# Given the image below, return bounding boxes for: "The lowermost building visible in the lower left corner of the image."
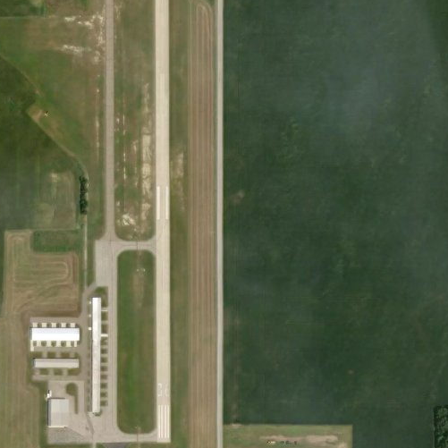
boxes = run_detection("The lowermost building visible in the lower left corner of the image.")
[49,399,69,426]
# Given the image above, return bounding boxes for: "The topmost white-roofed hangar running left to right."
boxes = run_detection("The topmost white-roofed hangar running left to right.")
[31,327,80,342]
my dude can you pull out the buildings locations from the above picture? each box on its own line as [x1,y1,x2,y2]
[31,327,80,342]
[35,359,79,369]
[92,298,101,412]
[49,399,69,426]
